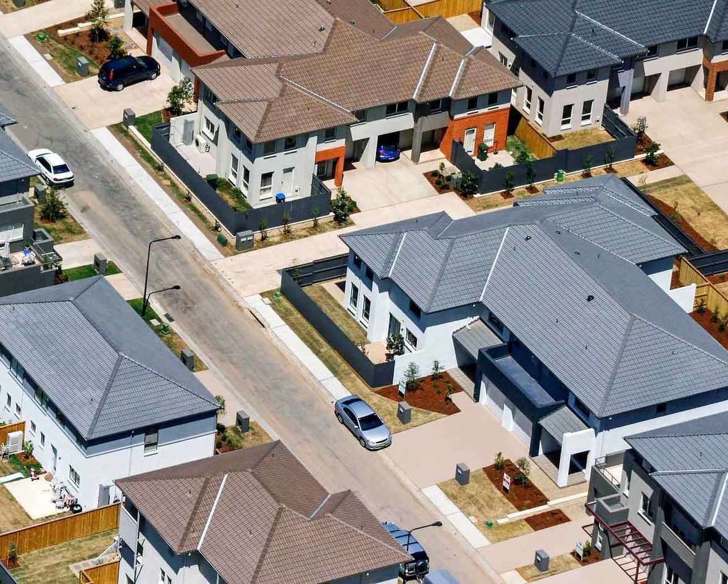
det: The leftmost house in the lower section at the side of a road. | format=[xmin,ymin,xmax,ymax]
[0,273,222,513]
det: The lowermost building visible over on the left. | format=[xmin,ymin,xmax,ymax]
[81,439,416,584]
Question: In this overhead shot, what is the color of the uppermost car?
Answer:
black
